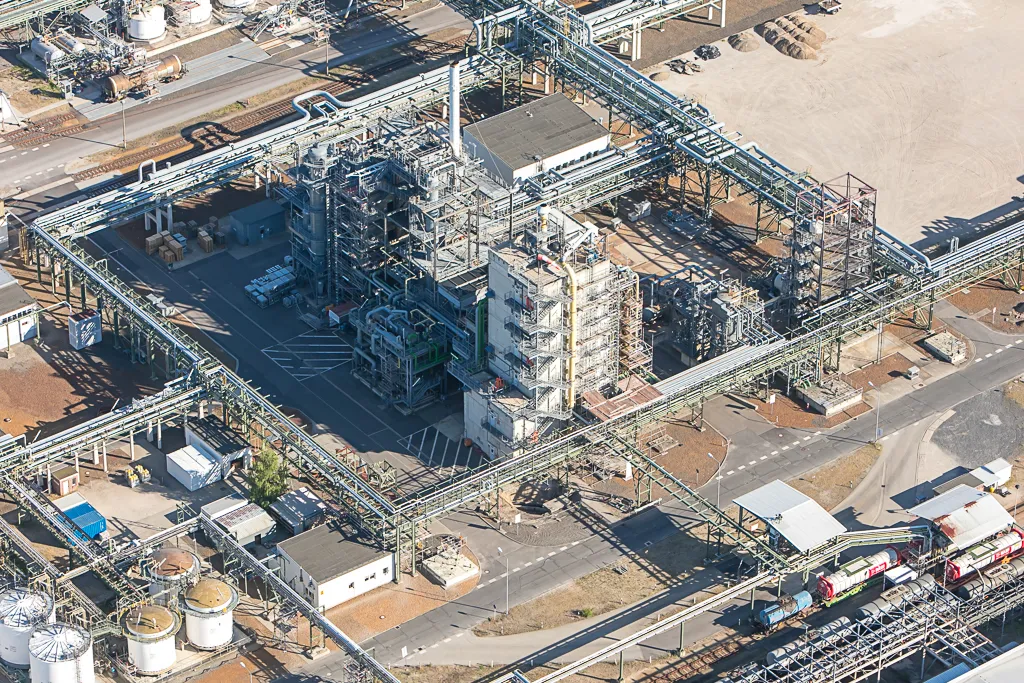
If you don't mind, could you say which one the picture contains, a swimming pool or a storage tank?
storage tank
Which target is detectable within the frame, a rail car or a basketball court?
rail car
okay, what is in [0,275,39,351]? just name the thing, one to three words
building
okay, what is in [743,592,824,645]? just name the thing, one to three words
rail car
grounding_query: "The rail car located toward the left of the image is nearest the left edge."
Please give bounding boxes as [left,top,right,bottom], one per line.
[99,45,197,99]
